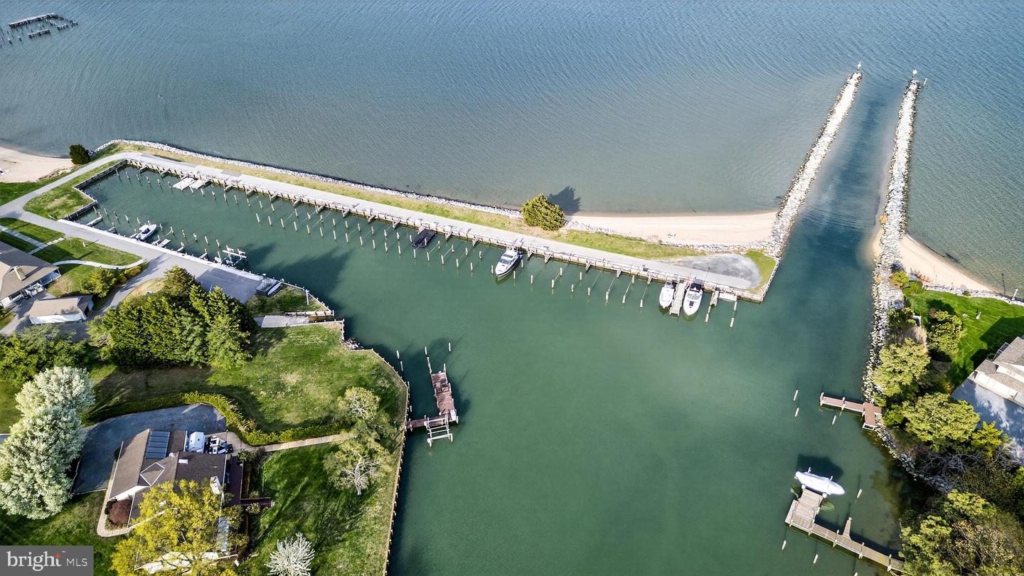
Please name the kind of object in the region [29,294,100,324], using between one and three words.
building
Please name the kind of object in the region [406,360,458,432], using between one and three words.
pier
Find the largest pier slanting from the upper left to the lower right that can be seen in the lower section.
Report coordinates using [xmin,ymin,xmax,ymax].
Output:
[785,484,902,575]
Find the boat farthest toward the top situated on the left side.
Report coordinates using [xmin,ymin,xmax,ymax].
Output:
[135,224,157,242]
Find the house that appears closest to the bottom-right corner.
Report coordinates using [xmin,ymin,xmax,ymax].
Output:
[964,337,1024,418]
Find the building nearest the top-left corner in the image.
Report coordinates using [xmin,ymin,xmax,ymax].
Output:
[0,251,60,305]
